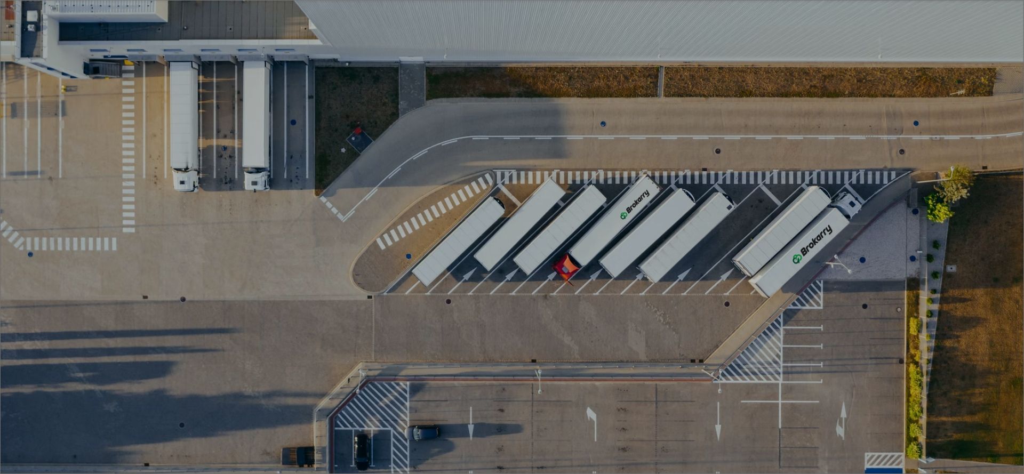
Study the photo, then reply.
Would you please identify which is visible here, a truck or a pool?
truck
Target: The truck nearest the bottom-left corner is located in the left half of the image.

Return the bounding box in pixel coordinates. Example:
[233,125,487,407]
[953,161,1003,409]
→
[279,448,313,469]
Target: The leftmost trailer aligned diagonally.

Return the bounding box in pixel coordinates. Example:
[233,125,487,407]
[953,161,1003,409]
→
[413,196,506,286]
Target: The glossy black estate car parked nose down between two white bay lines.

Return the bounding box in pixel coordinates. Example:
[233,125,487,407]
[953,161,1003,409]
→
[353,433,371,471]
